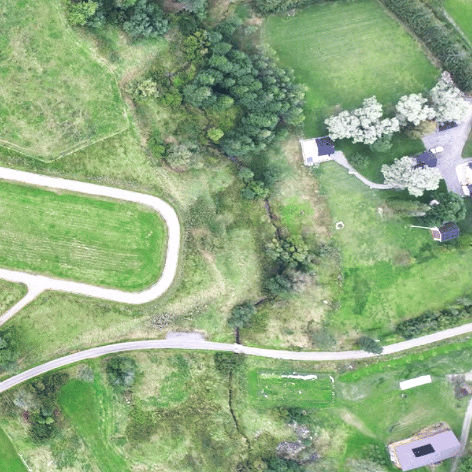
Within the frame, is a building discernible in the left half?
No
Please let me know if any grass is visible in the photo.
Yes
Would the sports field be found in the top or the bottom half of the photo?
top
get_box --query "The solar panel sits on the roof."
[412,445,434,460]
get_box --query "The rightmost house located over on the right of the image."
[451,158,472,201]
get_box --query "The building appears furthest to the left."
[313,136,335,157]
